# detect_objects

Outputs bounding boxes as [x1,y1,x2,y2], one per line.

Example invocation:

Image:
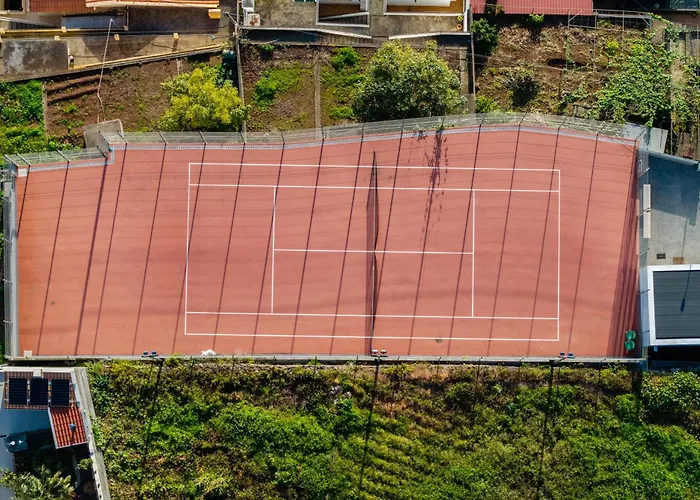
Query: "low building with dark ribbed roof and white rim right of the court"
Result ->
[645,264,700,352]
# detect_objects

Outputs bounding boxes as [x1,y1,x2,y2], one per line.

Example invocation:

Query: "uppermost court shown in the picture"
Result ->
[12,126,639,358]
